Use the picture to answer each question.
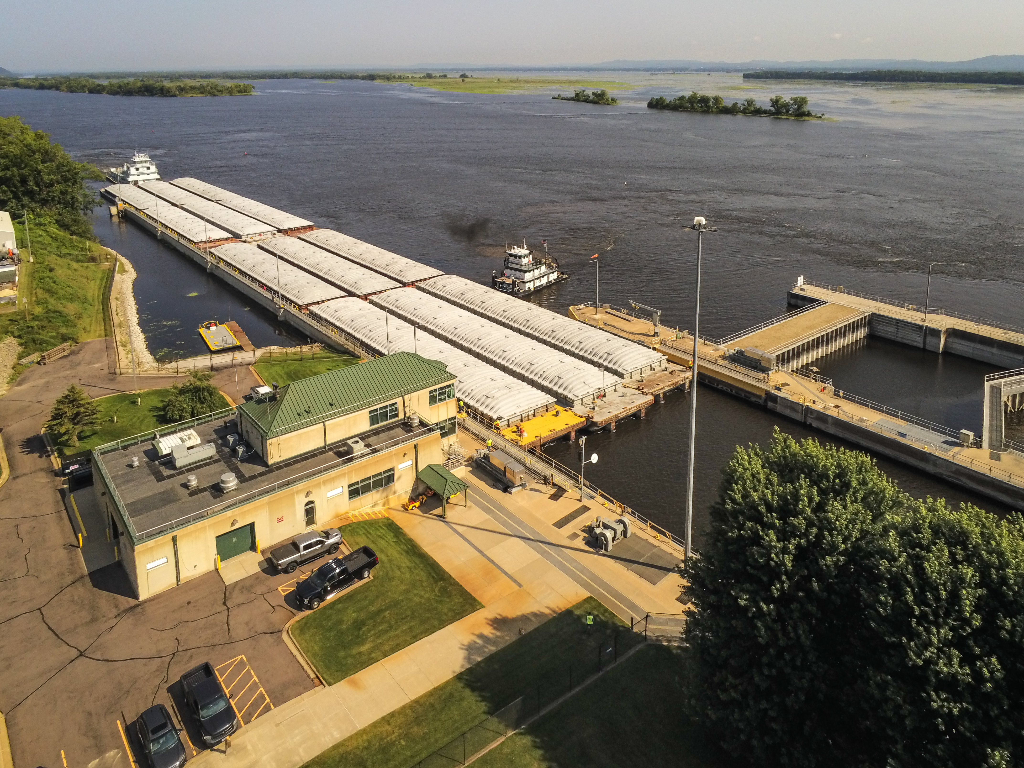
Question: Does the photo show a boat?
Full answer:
Yes, looking at the shot, I can spot a boat.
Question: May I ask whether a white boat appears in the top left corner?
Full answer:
Yes, a white boat appears in the top left corner.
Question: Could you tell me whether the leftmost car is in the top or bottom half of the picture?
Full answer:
The leftmost car is in the bottom half of the image.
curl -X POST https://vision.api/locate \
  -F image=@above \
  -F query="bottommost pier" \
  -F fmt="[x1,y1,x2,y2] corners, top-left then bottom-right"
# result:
[230,312,259,352]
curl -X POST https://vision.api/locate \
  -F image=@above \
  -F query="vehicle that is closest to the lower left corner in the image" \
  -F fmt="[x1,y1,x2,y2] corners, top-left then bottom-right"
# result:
[131,692,182,768]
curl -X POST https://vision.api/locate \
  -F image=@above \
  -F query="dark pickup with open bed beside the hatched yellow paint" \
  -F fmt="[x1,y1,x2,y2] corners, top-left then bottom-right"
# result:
[174,650,237,737]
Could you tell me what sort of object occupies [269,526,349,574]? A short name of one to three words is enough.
truck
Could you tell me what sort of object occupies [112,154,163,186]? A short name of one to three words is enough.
boat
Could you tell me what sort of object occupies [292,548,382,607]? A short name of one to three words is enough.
truck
